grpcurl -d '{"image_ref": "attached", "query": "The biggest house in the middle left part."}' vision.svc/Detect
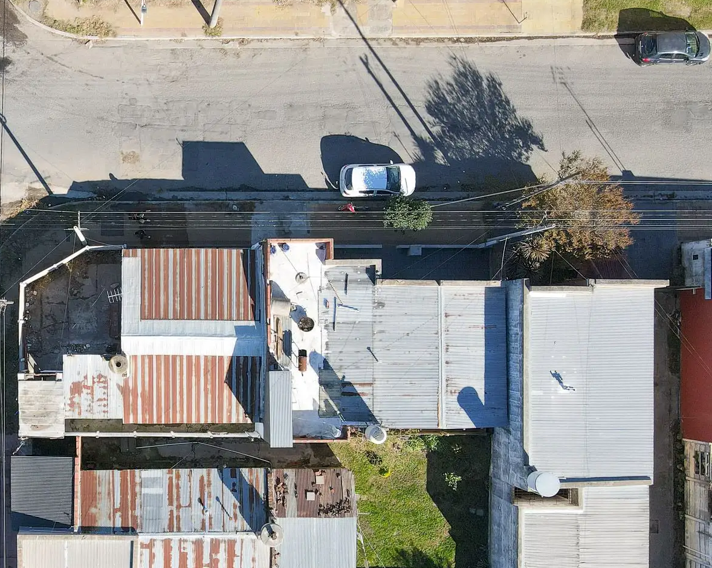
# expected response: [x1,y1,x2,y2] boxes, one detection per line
[63,245,264,441]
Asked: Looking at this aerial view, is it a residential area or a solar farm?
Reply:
residential area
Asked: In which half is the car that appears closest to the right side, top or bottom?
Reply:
top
